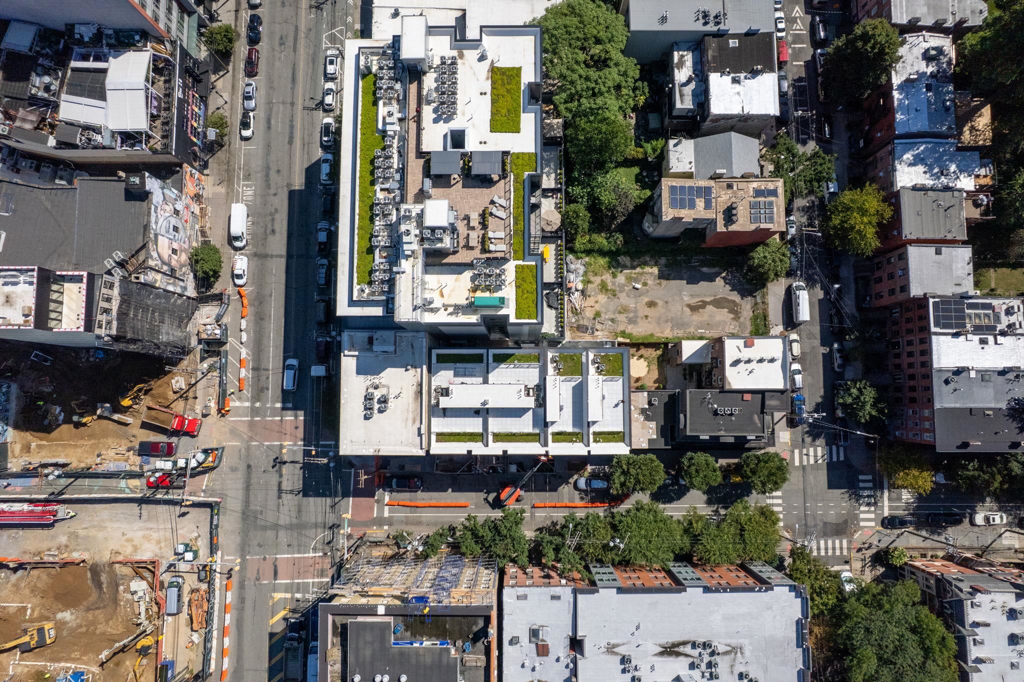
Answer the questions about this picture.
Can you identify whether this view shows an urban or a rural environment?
urban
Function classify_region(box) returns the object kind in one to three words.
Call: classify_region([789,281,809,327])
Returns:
vehicle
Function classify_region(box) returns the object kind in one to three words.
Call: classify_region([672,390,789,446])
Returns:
building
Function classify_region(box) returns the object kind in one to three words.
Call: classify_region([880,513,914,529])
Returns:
car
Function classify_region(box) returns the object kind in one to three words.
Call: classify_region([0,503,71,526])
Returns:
truck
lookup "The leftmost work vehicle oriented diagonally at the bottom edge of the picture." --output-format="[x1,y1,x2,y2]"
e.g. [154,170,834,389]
[131,629,158,670]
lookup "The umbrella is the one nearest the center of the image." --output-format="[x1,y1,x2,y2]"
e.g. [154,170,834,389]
[540,210,561,231]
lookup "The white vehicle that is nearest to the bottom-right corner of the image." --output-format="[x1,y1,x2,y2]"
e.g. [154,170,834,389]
[969,512,1004,527]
